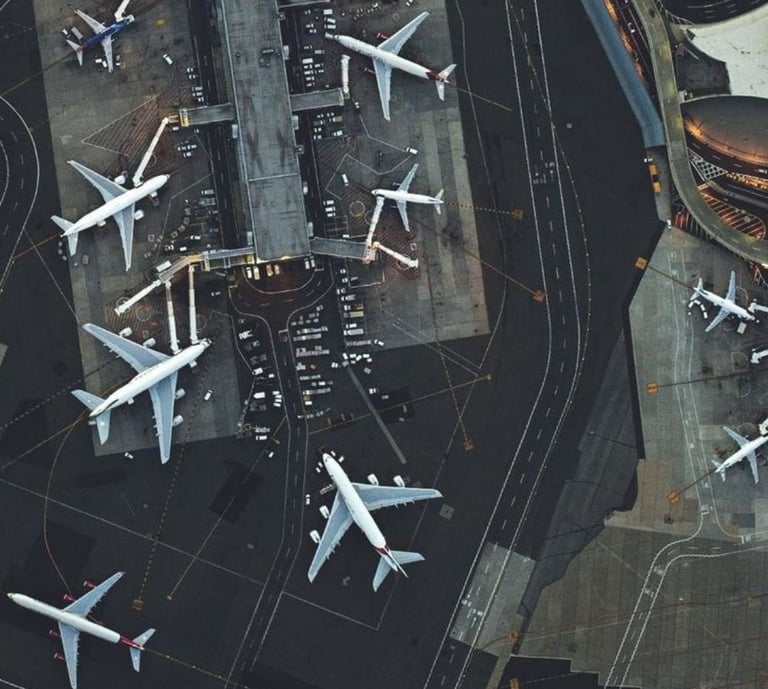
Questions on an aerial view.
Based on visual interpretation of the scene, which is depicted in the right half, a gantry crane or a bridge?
bridge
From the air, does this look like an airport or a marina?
airport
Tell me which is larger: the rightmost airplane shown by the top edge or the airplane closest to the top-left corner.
the rightmost airplane shown by the top edge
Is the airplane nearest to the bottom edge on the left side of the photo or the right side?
left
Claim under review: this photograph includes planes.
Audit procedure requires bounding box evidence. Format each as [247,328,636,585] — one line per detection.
[8,573,149,689]
[308,454,451,589]
[371,163,446,232]
[689,268,754,331]
[50,161,170,271]
[72,7,134,70]
[72,325,208,467]
[337,9,455,122]
[710,425,768,483]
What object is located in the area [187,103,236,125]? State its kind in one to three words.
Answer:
bridge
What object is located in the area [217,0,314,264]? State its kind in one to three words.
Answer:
building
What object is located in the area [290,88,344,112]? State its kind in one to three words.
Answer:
bridge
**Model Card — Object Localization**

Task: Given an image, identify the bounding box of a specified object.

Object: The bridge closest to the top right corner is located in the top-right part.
[631,0,768,271]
